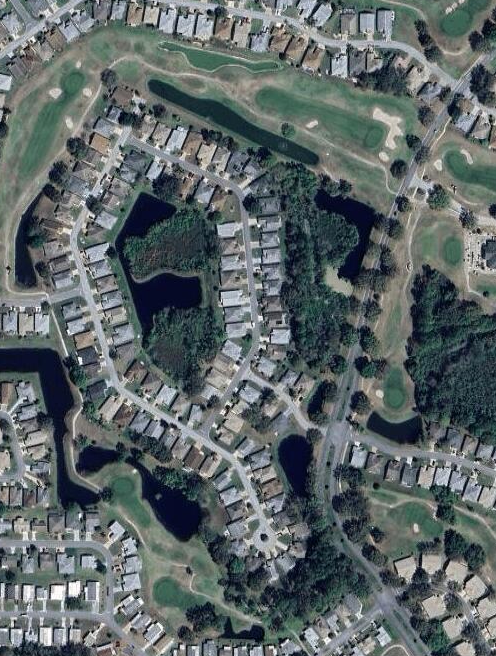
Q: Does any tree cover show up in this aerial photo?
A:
Yes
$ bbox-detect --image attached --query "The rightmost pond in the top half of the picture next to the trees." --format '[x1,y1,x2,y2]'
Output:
[315,187,376,279]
